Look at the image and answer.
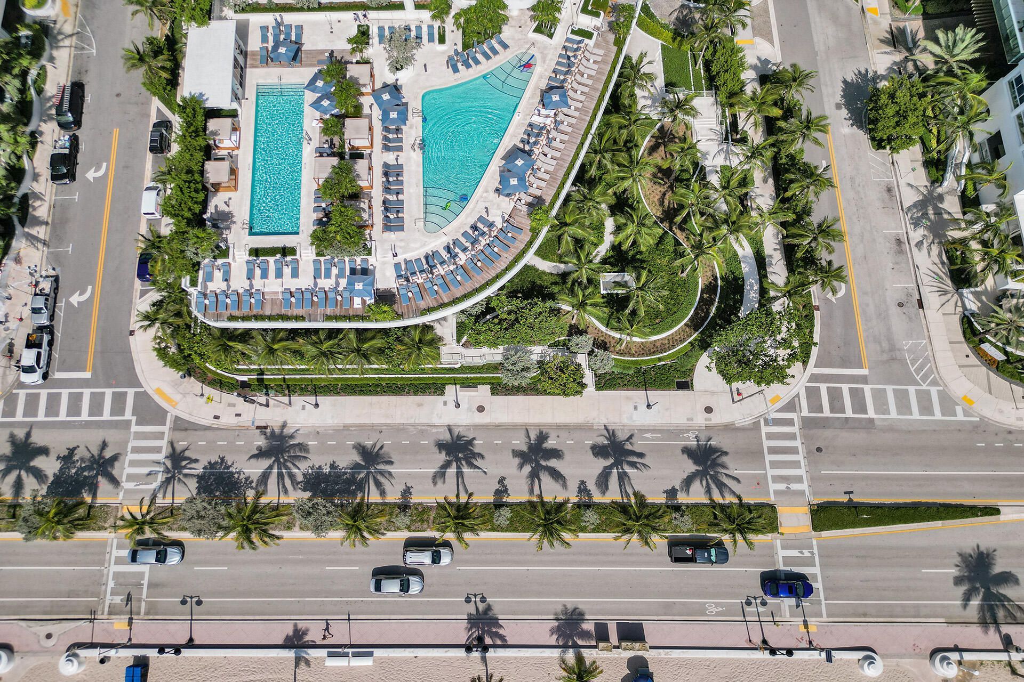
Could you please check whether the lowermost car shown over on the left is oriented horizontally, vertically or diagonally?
horizontally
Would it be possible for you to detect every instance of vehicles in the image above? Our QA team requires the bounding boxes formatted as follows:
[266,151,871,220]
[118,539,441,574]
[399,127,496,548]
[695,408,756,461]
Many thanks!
[666,541,727,568]
[128,542,185,569]
[150,122,172,157]
[23,328,57,385]
[404,542,453,569]
[135,251,157,287]
[371,572,424,598]
[141,184,168,222]
[761,576,811,601]
[52,82,84,132]
[50,137,81,188]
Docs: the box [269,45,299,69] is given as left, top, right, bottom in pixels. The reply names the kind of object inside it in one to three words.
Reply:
umbrella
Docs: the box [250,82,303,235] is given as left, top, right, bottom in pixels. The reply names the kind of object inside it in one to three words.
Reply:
swimming pool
